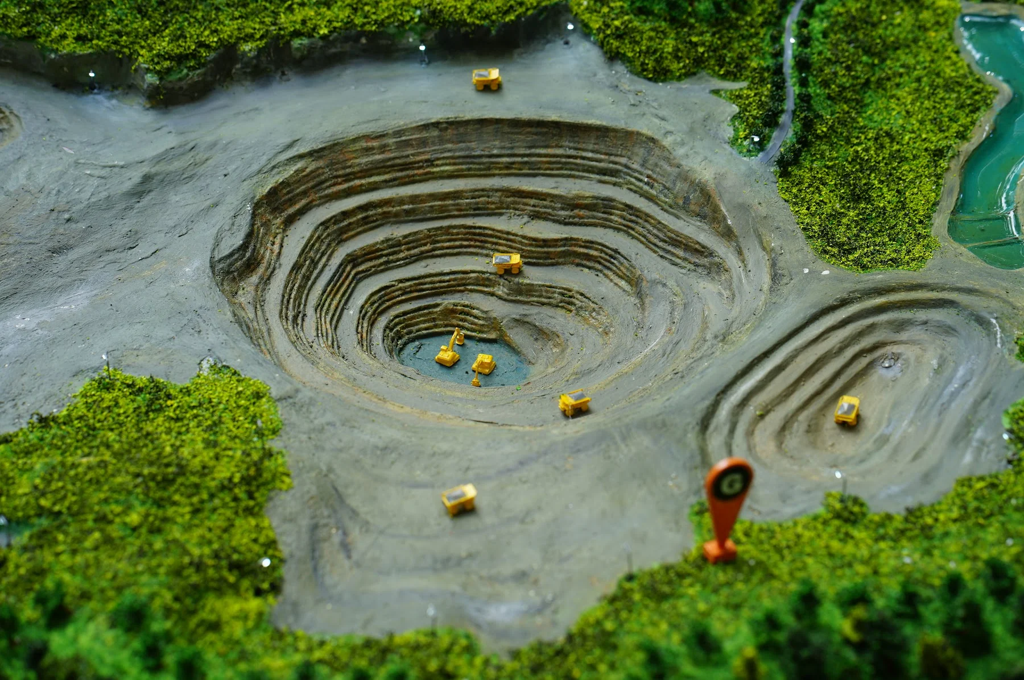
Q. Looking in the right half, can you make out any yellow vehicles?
Yes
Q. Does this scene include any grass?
Yes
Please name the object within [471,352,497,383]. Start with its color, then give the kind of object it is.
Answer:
yellow work vehicle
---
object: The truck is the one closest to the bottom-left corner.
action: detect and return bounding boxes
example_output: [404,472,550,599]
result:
[442,485,477,515]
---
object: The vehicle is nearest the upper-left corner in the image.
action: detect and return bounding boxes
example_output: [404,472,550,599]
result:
[475,69,500,89]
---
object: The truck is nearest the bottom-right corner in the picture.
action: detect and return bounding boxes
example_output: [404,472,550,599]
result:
[837,397,859,426]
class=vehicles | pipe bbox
[494,252,521,273]
[475,69,500,89]
[558,388,590,415]
[442,485,477,515]
[471,352,497,383]
[434,332,464,369]
[837,397,859,426]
